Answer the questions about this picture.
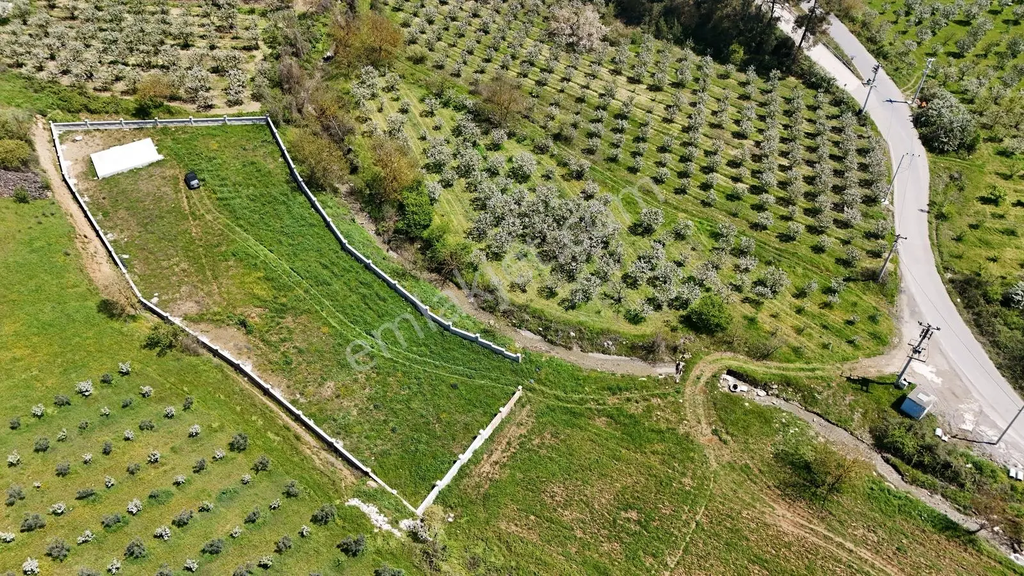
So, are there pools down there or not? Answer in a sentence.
No, the frame has no pool in it.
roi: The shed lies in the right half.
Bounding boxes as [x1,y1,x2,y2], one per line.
[900,387,937,422]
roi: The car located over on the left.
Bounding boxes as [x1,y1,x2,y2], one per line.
[184,172,200,189]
